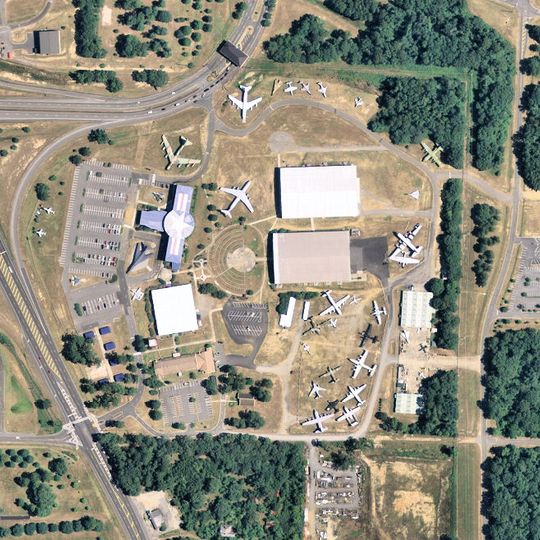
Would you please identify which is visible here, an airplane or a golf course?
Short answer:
airplane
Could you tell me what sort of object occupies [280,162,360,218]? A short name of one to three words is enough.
hangar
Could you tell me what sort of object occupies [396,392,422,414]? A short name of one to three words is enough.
building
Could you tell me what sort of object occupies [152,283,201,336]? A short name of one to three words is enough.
building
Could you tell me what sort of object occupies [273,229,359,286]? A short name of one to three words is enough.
hangar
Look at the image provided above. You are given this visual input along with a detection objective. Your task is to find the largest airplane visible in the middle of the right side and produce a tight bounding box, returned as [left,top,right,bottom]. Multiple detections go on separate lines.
[391,224,423,258]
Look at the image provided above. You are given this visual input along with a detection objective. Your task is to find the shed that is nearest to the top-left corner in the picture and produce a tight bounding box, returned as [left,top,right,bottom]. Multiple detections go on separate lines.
[38,30,59,54]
